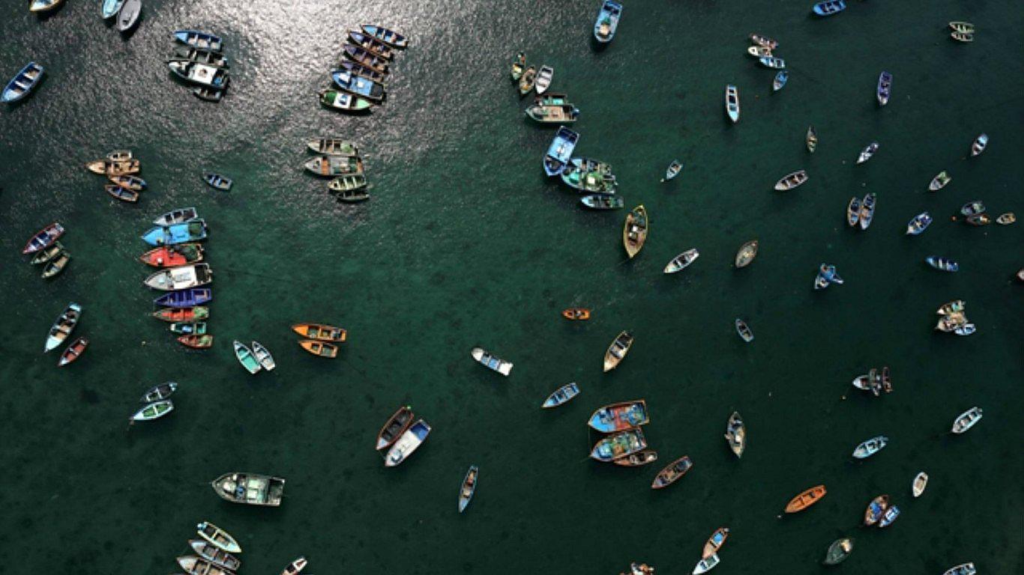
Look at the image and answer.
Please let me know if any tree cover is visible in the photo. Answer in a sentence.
No, no tree cover is visible.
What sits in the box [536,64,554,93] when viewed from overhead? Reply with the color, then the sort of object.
white boat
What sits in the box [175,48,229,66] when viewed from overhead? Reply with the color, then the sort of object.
gray boat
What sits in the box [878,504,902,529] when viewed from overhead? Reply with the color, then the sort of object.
blue boat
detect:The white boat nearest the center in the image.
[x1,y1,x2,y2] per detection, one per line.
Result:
[471,347,514,376]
